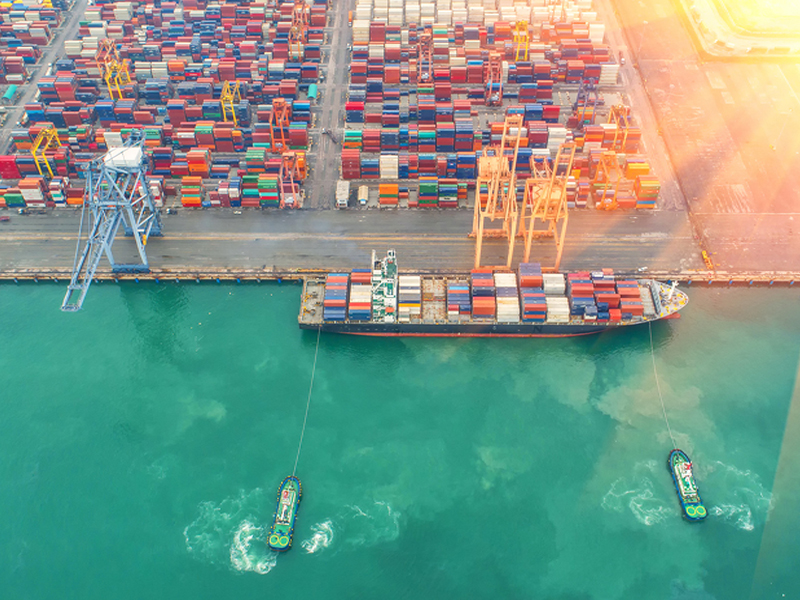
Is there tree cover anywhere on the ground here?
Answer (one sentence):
No, there's no tree cover in this view.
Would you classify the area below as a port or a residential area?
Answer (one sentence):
This looks like a port.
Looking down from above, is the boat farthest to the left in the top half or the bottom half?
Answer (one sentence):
The bottom half of the photo is where the boat farthest to the left is.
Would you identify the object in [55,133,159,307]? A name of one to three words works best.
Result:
container crane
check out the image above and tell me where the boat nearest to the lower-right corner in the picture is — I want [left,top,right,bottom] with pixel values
[665,448,709,523]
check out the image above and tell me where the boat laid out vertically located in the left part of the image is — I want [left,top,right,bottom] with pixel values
[266,474,302,553]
